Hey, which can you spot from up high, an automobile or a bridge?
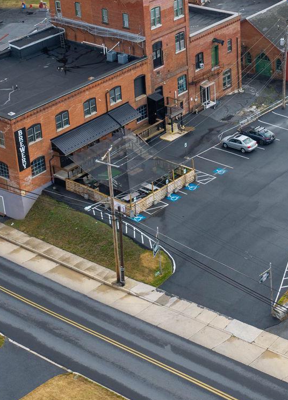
automobile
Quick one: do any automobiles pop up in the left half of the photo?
No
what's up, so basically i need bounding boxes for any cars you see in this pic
[239,122,276,142]
[221,133,259,151]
